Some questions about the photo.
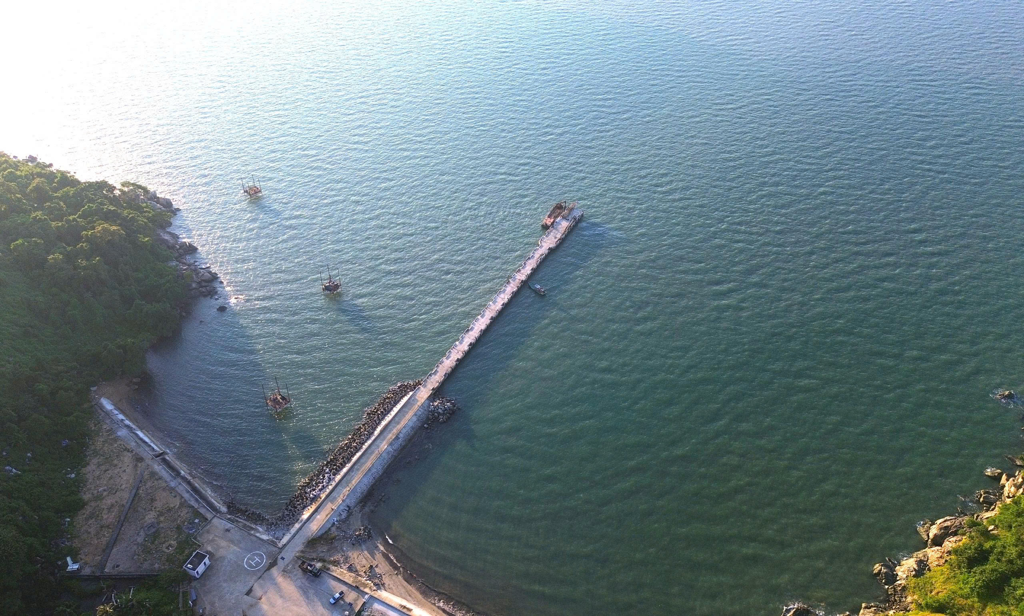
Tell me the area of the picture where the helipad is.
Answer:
bottom left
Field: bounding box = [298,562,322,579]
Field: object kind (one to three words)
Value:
vehicle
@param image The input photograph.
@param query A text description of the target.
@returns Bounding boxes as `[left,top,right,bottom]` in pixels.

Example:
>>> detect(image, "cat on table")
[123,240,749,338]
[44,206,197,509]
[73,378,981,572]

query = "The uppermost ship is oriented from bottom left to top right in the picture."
[540,199,564,228]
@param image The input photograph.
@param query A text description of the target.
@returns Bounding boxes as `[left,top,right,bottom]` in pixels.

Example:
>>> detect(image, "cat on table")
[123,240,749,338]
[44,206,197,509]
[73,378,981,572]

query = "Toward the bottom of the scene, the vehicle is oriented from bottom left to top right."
[329,590,346,604]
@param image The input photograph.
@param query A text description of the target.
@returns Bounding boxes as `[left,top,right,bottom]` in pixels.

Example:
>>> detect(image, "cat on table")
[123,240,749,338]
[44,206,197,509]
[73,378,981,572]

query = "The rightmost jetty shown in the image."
[420,208,586,397]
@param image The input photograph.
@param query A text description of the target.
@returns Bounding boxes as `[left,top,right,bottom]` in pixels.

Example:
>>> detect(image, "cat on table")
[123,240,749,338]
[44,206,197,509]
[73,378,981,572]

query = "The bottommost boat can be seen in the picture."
[528,281,547,295]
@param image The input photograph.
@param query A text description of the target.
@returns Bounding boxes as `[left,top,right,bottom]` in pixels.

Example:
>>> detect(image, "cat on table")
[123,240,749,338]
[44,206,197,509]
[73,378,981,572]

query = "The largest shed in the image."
[183,551,212,579]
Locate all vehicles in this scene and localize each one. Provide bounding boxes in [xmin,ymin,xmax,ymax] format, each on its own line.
[329,590,346,604]
[298,562,322,579]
